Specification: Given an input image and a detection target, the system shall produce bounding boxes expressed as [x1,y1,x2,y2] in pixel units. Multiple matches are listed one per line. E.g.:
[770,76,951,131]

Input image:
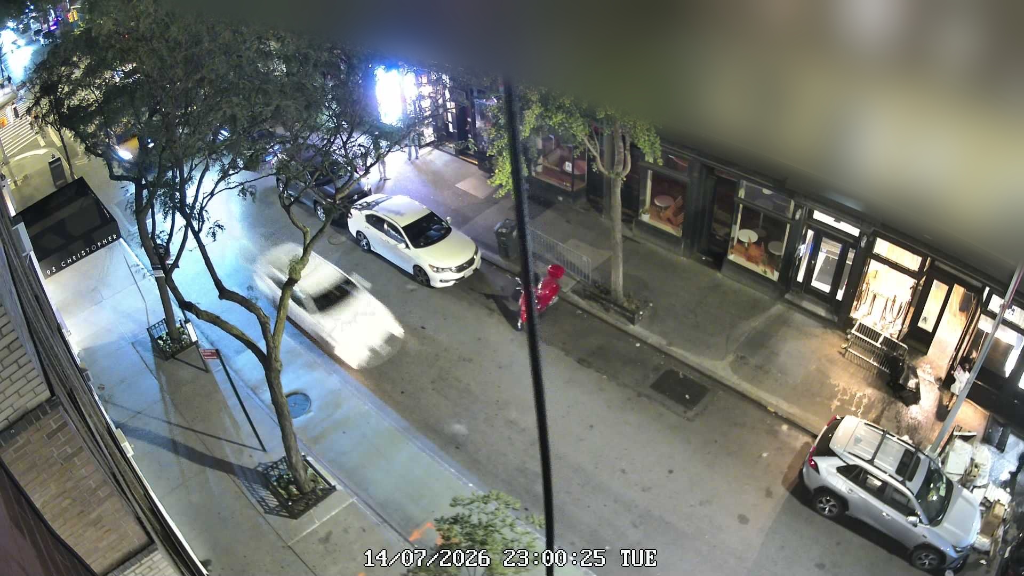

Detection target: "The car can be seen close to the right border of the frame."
[802,412,995,571]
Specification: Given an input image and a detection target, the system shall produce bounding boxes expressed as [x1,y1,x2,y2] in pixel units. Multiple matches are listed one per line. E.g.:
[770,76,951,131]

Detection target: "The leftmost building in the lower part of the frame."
[0,124,205,576]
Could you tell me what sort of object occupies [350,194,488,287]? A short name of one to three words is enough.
car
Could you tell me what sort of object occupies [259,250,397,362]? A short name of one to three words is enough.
car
